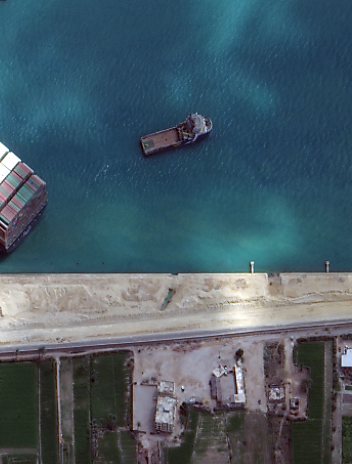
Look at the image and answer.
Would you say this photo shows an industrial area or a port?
port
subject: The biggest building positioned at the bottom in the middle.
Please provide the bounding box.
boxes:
[155,396,178,434]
